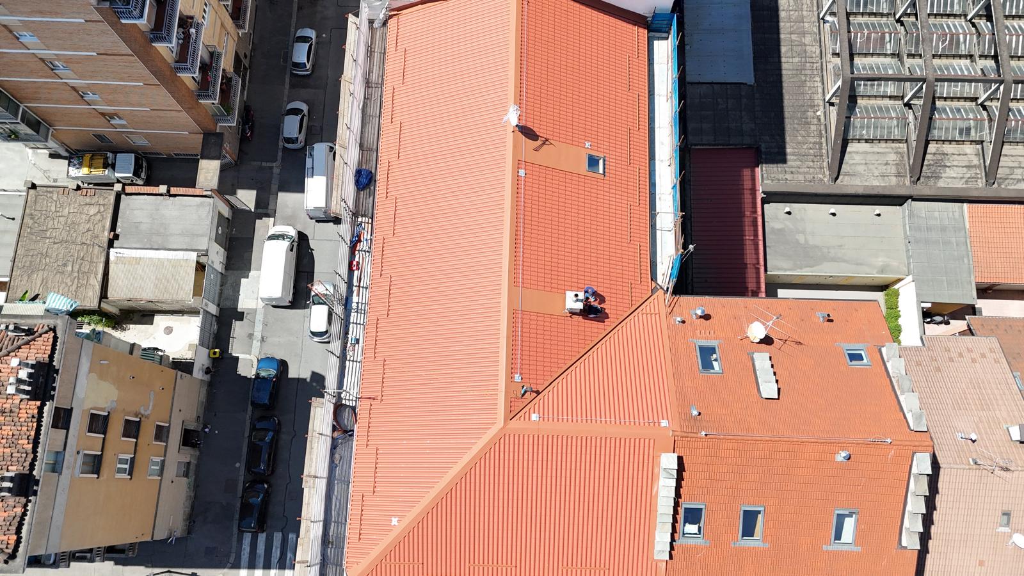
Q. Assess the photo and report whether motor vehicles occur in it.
Yes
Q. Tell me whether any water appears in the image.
No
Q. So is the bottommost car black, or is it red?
black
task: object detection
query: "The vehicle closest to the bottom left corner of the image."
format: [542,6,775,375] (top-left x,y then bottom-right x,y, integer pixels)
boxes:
[237,481,274,532]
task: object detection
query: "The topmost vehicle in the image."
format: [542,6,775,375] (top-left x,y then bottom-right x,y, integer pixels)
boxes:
[289,27,321,77]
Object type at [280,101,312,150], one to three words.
car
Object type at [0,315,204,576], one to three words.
house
